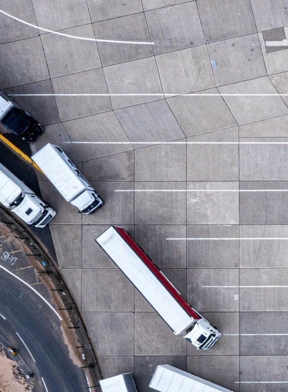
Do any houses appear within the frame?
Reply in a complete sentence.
No, no house can be seen from above.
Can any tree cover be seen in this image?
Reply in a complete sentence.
No, the picture contains no tree cover.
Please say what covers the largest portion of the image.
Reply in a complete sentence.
The scene is dominated by paved ground.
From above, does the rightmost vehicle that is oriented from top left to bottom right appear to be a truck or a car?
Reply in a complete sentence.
It turns out the rightmost vehicle that is oriented from top left to bottom right is a truck.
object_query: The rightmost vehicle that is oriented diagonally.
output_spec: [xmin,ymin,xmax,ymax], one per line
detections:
[96,227,222,351]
